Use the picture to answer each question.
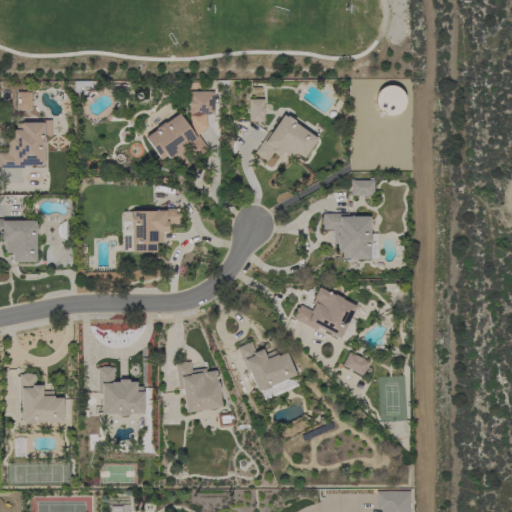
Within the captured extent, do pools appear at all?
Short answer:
Yes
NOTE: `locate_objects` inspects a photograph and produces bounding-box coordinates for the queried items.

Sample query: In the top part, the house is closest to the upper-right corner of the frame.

[353,179,376,197]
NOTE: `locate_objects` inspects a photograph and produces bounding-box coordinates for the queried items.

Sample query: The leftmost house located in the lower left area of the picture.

[20,374,65,424]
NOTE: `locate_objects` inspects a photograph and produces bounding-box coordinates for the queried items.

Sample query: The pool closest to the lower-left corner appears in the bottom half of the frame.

[34,436,57,452]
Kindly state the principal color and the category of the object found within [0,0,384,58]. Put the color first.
green sports field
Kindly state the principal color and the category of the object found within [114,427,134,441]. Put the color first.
blue swimming pool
